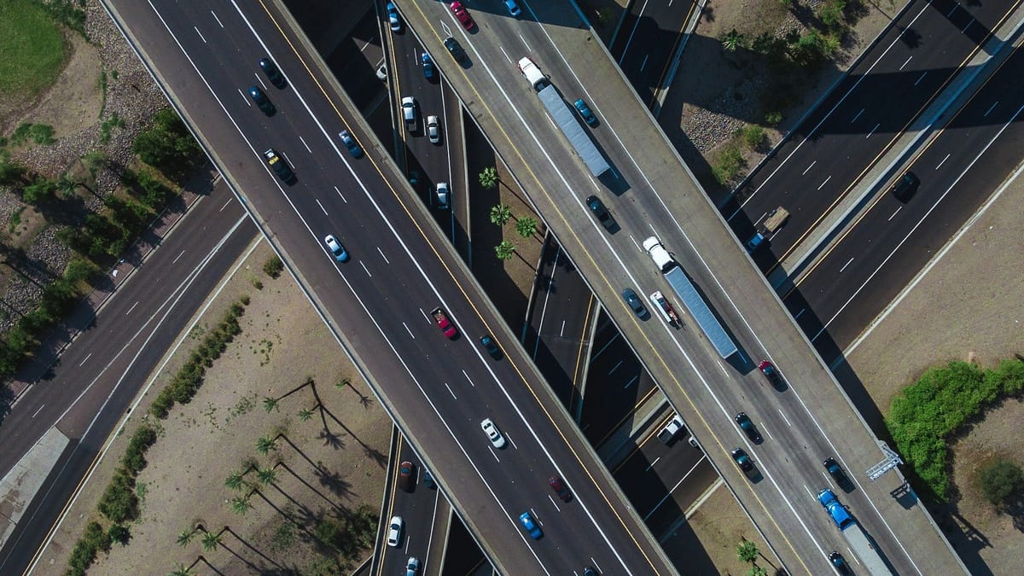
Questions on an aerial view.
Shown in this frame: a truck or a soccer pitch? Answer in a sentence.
Visible in the photo is a truck.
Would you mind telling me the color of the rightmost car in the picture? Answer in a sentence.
The color of the rightmost car is black.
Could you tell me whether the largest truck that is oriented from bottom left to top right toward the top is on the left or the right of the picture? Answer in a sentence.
You can find the largest truck that is oriented from bottom left to top right toward the top on the right side of the picture.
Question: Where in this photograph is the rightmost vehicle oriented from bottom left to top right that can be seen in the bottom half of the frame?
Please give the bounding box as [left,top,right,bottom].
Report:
[655,413,684,444]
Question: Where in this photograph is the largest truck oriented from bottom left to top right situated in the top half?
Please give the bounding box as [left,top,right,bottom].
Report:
[747,205,790,250]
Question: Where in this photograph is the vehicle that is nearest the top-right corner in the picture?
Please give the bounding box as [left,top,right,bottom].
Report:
[892,172,919,200]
